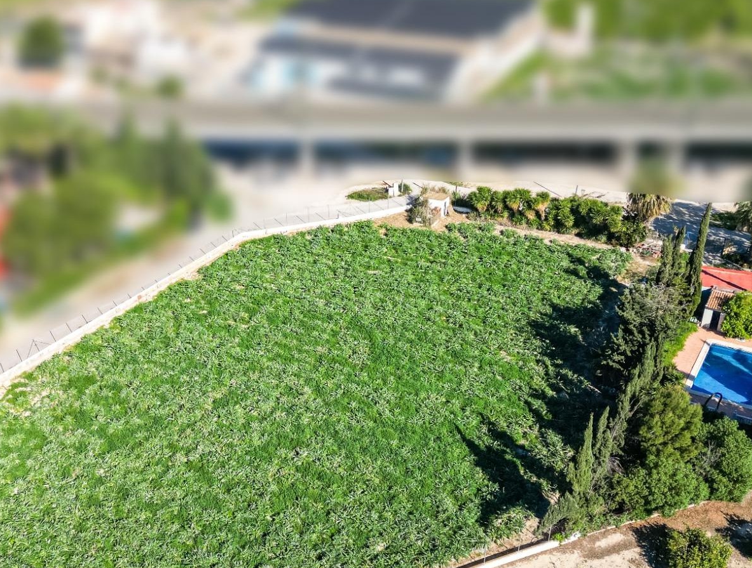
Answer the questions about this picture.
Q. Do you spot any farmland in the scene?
Yes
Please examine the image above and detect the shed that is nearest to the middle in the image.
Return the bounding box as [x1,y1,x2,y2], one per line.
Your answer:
[424,191,449,218]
